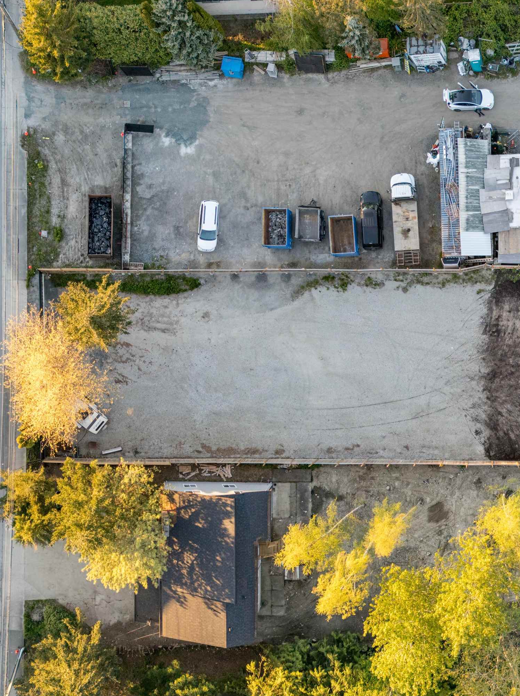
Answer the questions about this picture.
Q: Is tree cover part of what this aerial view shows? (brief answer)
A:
Yes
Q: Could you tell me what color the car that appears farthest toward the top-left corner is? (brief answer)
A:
white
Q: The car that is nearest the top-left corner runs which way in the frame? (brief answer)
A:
vertically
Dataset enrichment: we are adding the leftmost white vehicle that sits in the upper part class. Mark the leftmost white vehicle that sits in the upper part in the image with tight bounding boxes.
[196,201,222,252]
